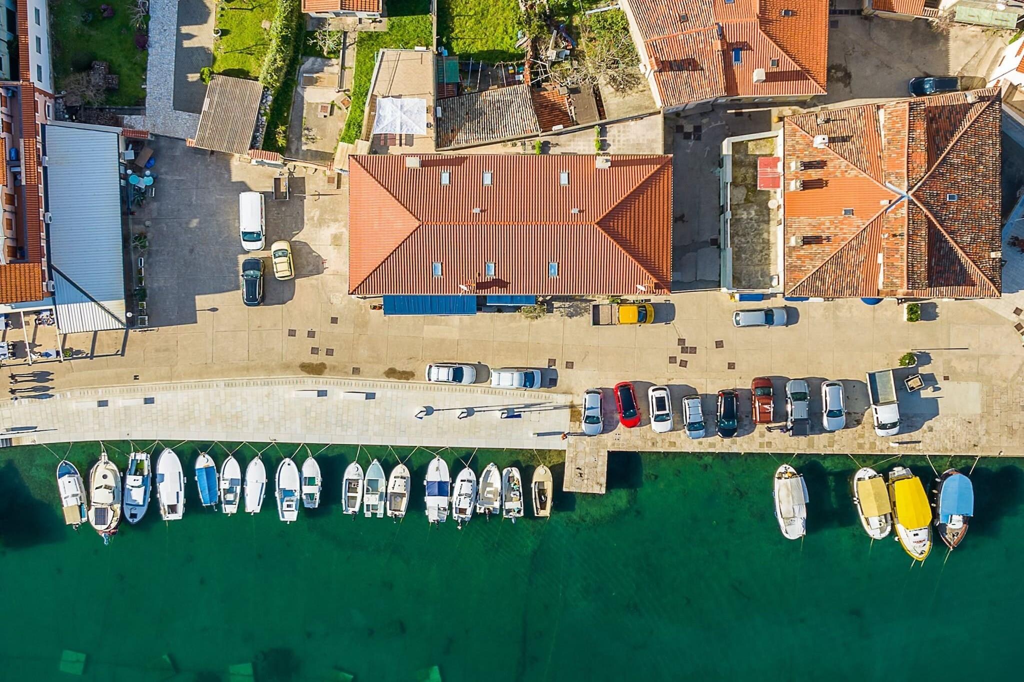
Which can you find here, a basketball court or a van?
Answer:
van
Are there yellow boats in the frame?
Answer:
Yes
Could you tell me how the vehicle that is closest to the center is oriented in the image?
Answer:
from left to right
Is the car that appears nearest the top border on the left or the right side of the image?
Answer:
right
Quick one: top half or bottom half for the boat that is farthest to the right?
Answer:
bottom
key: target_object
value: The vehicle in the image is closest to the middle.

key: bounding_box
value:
[491,367,541,391]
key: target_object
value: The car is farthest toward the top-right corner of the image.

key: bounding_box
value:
[907,72,961,97]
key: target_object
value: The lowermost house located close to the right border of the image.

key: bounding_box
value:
[773,86,1006,304]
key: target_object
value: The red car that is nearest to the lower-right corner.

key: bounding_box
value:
[749,376,776,425]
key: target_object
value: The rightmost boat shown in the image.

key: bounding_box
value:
[934,469,977,551]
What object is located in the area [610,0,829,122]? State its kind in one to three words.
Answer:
house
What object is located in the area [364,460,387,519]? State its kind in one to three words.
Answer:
boat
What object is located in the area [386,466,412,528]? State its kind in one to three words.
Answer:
boat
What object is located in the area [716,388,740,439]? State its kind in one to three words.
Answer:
car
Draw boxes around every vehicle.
[647,384,674,434]
[237,190,265,252]
[820,380,847,431]
[239,257,265,307]
[749,376,776,425]
[716,388,740,439]
[784,378,811,437]
[907,72,961,97]
[866,367,902,437]
[591,303,653,327]
[680,394,706,440]
[581,388,606,436]
[491,367,541,391]
[613,380,641,429]
[732,305,786,329]
[426,362,476,386]
[271,240,296,281]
